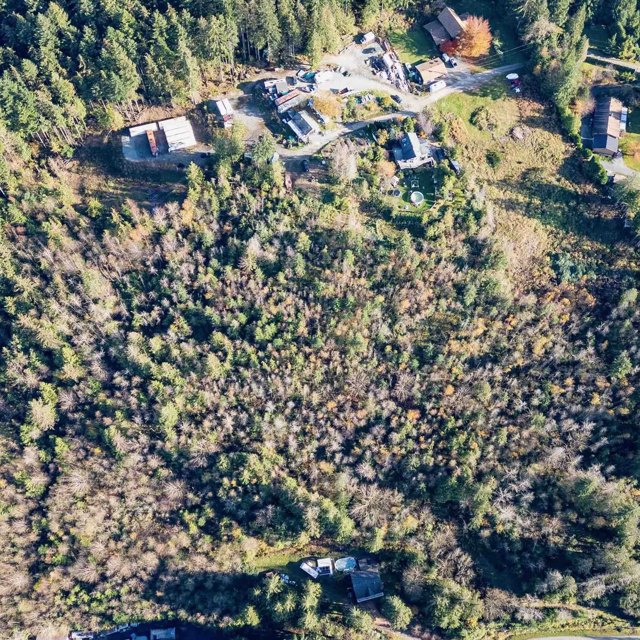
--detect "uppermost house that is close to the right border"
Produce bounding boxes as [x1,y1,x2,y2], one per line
[591,95,623,138]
